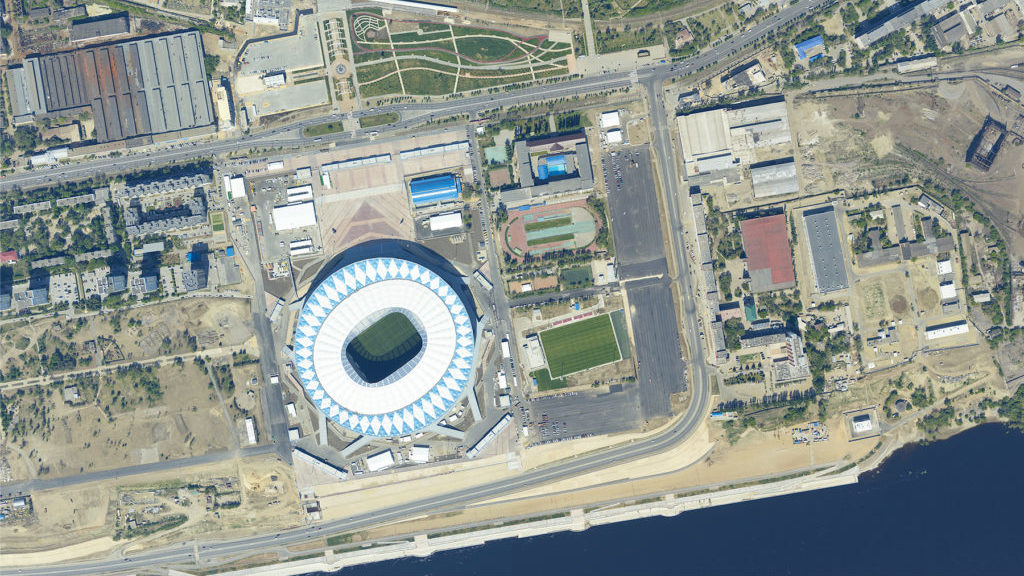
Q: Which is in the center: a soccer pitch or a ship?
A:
soccer pitch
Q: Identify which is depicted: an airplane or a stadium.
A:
stadium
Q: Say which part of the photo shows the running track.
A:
center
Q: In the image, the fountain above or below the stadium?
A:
above it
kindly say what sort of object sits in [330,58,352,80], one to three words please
fountain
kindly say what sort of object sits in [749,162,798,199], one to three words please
building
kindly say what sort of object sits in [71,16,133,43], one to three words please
building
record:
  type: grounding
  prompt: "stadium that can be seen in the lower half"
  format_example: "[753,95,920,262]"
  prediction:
[280,255,491,459]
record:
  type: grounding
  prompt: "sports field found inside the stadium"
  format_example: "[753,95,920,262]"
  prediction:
[347,311,423,382]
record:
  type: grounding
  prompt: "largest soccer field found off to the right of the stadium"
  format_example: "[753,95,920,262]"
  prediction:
[538,312,623,380]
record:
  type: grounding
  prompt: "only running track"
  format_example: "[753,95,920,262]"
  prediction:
[499,199,602,260]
